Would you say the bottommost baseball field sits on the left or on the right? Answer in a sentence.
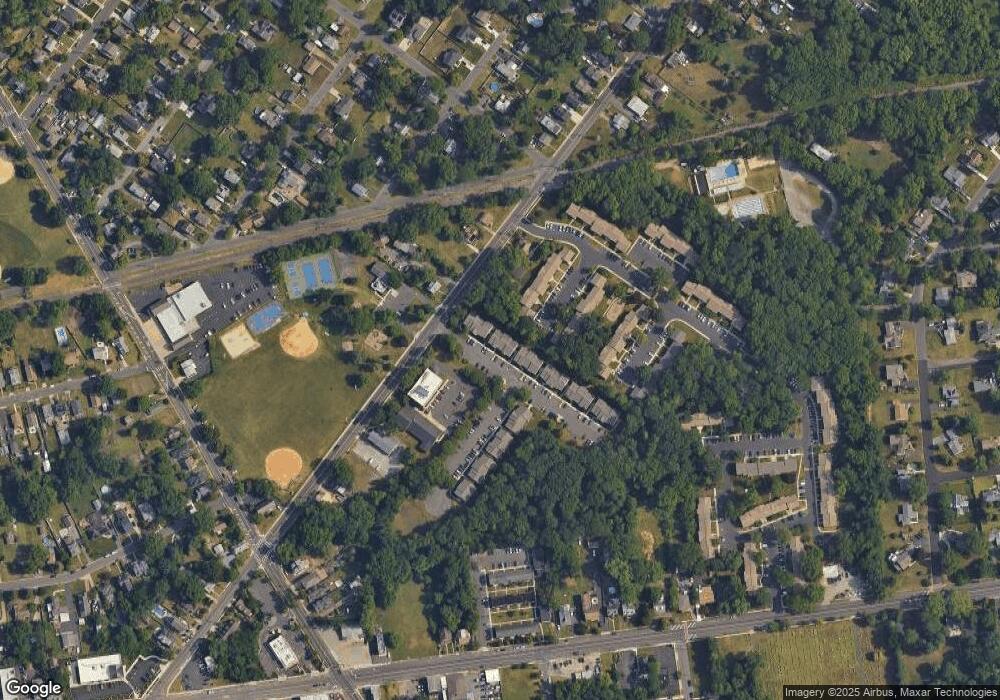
The bottommost baseball field is on the left side of the image.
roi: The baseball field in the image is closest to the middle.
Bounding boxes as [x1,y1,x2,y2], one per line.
[279,312,320,359]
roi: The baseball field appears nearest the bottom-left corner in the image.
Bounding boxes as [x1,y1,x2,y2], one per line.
[266,446,303,495]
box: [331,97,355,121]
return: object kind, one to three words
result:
house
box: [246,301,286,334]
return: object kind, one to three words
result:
sports court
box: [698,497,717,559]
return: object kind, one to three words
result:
building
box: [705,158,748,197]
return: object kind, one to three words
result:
swimming pool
